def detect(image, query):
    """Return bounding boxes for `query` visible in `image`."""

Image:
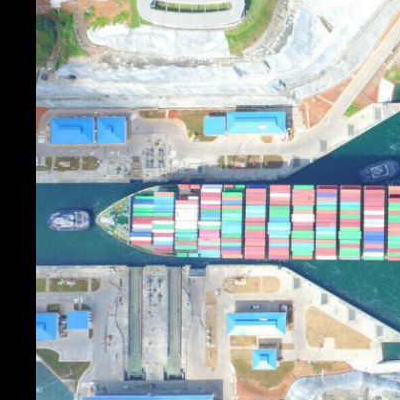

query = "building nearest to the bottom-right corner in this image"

[253,349,277,370]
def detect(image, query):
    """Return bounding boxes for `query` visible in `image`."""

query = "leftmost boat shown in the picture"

[47,210,92,232]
